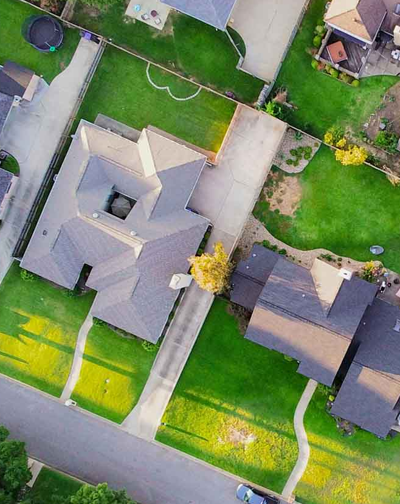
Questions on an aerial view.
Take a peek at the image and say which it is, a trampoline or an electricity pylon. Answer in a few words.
trampoline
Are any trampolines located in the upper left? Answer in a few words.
Yes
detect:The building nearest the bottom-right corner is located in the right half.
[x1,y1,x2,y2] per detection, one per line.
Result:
[330,297,400,440]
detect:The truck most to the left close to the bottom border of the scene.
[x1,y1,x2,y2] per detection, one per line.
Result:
[233,481,280,504]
